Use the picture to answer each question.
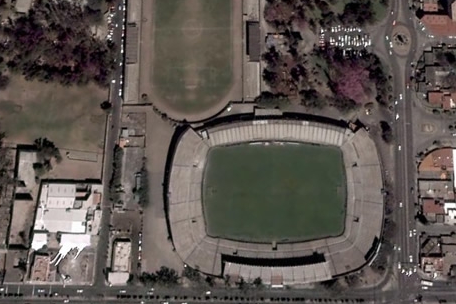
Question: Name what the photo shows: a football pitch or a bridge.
football pitch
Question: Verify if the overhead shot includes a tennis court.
No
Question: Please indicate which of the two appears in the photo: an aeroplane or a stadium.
stadium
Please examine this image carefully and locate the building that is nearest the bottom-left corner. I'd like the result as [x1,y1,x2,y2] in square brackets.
[30,255,49,281]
